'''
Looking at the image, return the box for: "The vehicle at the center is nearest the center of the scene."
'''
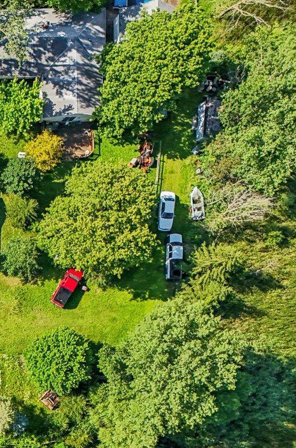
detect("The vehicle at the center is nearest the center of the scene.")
[154,192,175,231]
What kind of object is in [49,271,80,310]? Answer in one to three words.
truck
